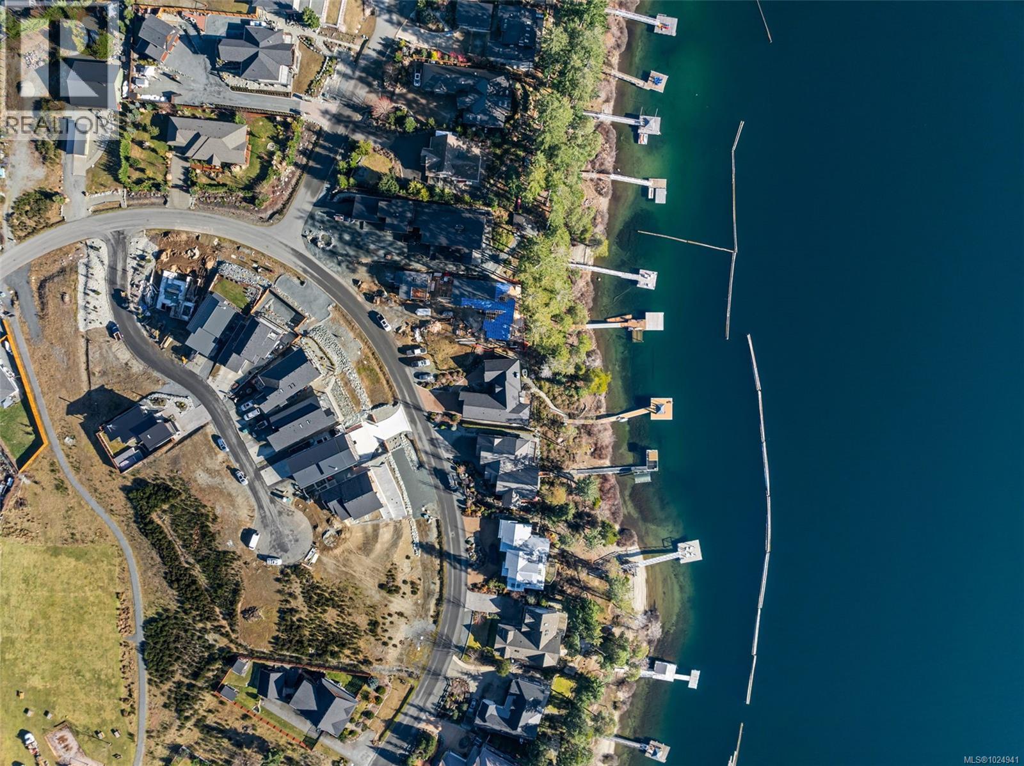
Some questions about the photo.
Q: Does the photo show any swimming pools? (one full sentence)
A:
No, I can't see a single swimming pool in this photo.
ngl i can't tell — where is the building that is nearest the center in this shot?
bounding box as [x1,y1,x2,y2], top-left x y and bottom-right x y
[458,359,530,424]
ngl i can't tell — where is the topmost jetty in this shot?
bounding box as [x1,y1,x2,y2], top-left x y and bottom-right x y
[606,5,679,37]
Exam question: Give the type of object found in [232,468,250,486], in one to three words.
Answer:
car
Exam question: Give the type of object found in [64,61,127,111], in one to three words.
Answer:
building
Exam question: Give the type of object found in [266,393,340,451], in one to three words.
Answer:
house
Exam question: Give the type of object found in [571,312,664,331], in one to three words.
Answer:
pier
